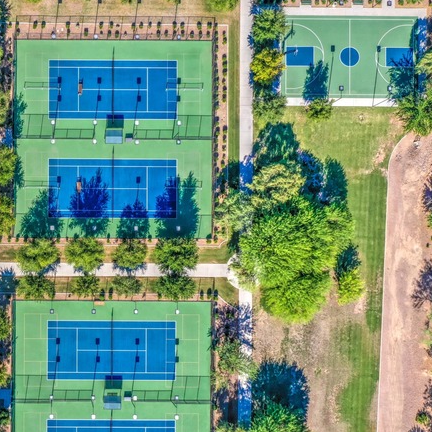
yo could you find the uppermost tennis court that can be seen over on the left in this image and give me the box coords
[16,39,212,139]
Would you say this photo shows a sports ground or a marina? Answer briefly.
sports ground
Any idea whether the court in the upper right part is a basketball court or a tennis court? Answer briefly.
basketball court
